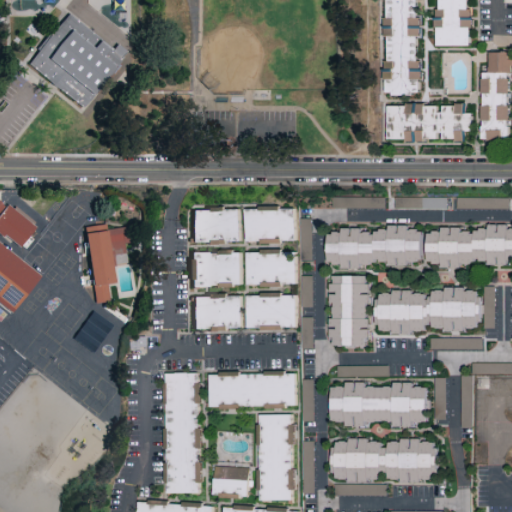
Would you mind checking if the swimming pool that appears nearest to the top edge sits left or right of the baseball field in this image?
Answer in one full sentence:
The swimming pool that appears nearest to the top edge can be seen on the right of the baseball field.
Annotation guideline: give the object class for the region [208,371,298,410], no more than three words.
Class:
building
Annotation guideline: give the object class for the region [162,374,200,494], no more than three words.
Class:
building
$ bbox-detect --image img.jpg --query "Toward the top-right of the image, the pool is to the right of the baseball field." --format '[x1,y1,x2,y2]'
[443,52,472,94]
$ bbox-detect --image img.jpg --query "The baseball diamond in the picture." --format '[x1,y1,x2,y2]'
[196,0,334,92]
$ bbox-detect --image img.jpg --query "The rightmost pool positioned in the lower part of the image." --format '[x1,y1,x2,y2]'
[217,432,254,462]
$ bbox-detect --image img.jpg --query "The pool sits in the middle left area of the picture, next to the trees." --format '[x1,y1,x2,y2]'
[116,264,136,298]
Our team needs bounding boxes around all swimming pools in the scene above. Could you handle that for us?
[443,52,472,94]
[116,264,136,298]
[217,432,254,462]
